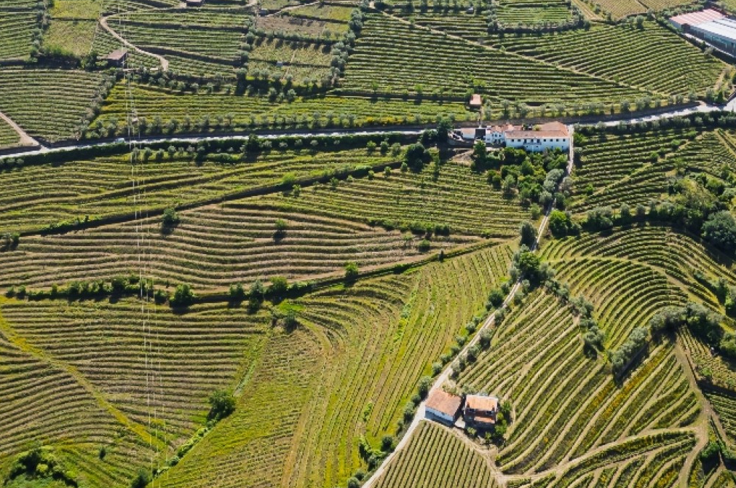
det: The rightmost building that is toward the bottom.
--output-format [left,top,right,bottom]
[463,392,498,432]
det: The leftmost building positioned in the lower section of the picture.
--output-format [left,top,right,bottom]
[423,388,462,425]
